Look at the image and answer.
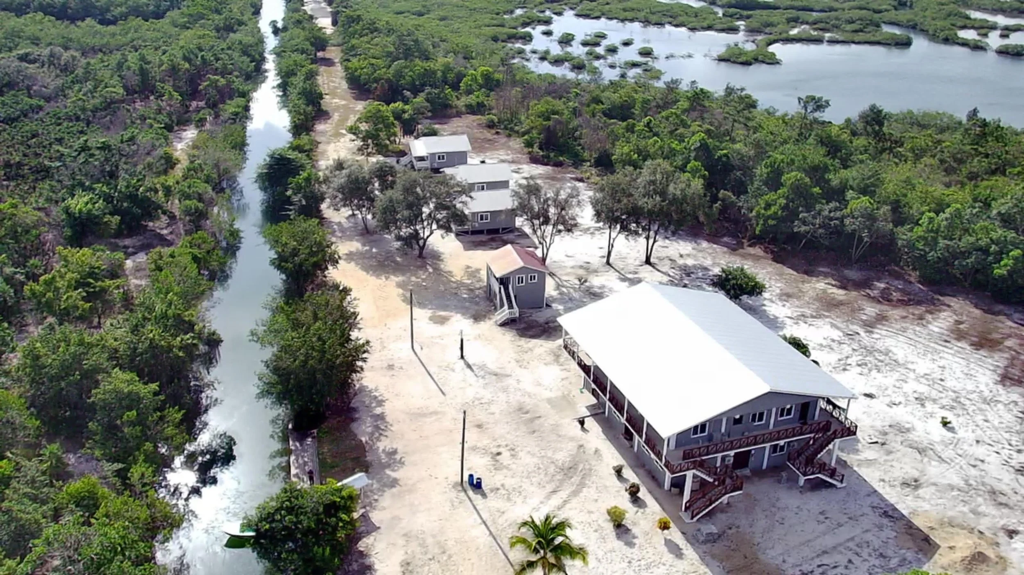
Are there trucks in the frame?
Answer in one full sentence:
No, I can see no truck in this picture.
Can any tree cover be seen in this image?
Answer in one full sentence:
Yes, there's tree cover in this view.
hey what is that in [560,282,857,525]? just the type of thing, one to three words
house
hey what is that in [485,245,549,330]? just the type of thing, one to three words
house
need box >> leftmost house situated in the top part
[399,135,470,174]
